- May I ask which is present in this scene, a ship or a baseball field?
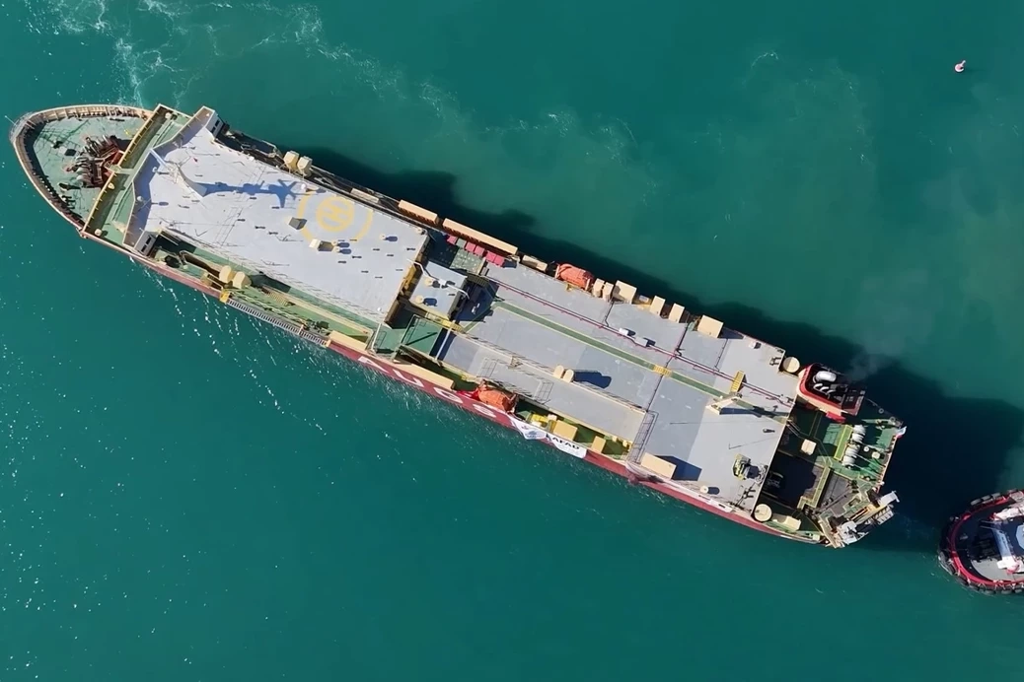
ship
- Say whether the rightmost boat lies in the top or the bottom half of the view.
bottom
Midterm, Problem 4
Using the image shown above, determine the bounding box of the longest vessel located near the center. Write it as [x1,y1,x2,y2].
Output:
[2,105,912,550]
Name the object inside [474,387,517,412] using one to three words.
boat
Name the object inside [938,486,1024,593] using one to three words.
boat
